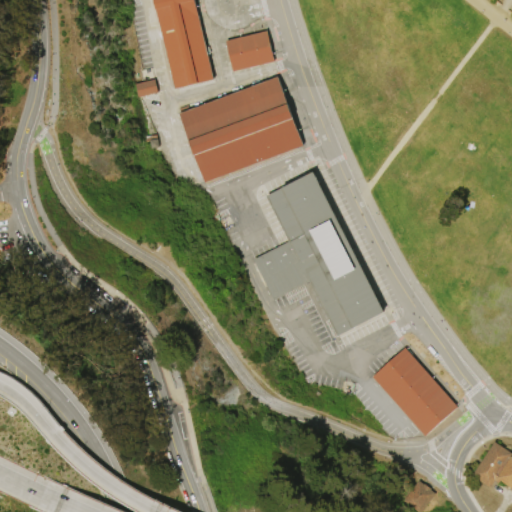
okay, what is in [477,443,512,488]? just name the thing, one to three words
house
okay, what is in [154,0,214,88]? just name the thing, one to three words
building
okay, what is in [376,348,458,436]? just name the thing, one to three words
building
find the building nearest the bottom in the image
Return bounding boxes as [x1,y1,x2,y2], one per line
[404,482,438,512]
